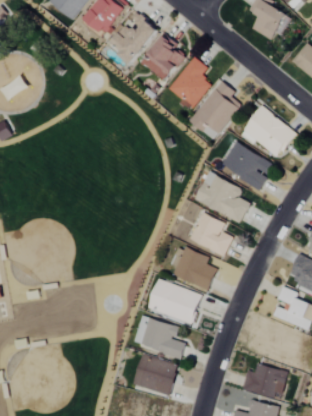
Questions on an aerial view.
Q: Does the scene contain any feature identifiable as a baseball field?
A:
Yes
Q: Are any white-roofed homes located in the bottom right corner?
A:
Yes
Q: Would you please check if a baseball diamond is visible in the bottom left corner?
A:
Yes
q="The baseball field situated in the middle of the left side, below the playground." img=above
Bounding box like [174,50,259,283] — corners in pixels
[4,218,76,286]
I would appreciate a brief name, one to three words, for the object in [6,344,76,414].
baseball field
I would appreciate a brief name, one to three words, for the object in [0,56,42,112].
playground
